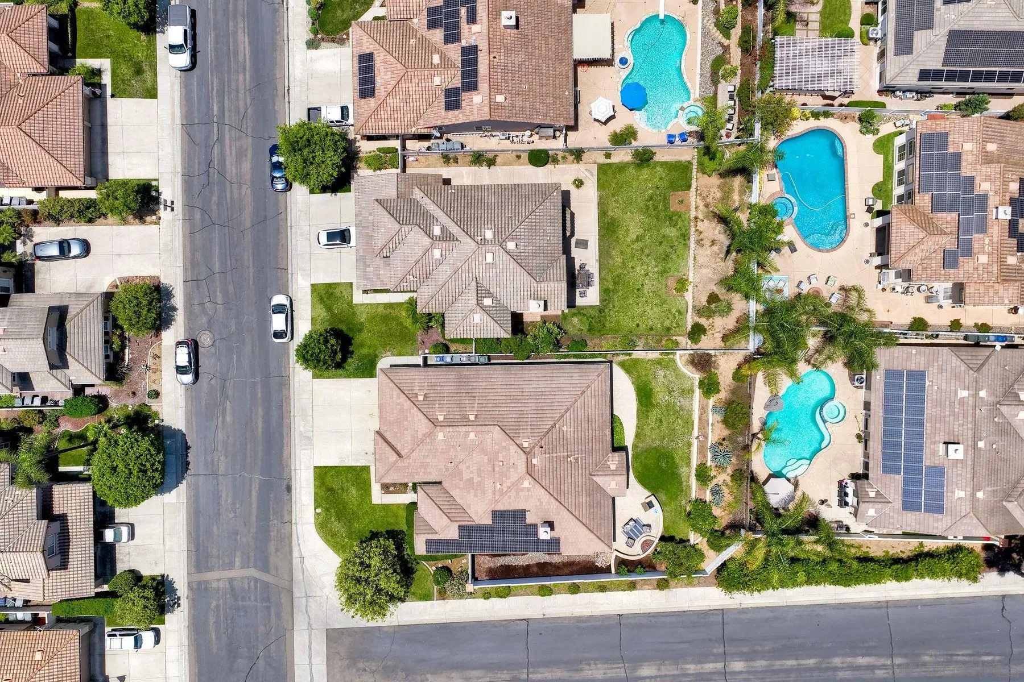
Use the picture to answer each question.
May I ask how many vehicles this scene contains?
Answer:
9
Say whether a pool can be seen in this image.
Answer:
Yes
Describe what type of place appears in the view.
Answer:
residential area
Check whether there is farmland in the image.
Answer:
No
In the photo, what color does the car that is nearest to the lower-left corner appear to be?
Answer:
white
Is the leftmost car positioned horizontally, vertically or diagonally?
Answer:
horizontally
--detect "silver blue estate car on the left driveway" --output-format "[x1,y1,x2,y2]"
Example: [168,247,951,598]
[32,236,88,260]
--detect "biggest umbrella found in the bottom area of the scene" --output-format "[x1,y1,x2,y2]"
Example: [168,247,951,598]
[762,476,793,507]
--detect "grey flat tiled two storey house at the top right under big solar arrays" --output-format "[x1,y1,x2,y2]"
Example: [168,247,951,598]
[862,0,1024,102]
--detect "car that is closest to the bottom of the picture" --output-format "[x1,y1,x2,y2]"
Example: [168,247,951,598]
[103,626,160,653]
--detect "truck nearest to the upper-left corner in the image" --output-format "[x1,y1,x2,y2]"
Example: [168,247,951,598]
[167,4,195,72]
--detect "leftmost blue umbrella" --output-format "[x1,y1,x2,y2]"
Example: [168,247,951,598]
[620,84,647,111]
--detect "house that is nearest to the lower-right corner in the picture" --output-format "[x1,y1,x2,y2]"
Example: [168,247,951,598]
[847,344,1024,537]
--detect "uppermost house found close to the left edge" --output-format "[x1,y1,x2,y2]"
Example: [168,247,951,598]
[0,3,94,187]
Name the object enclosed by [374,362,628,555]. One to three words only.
house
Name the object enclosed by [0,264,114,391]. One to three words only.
house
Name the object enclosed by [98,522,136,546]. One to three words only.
car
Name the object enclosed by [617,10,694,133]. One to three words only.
swimming pool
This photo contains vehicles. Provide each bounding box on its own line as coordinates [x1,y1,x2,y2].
[269,294,293,342]
[268,144,292,192]
[32,236,88,260]
[315,225,356,249]
[173,339,199,385]
[103,626,160,653]
[98,522,136,546]
[167,4,195,72]
[307,102,354,127]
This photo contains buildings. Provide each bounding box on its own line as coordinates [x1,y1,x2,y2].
[868,116,1024,305]
[354,172,571,340]
[0,264,114,391]
[350,0,574,136]
[0,625,91,682]
[0,3,94,187]
[374,362,628,555]
[862,0,1024,102]
[847,344,1024,537]
[0,482,105,602]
